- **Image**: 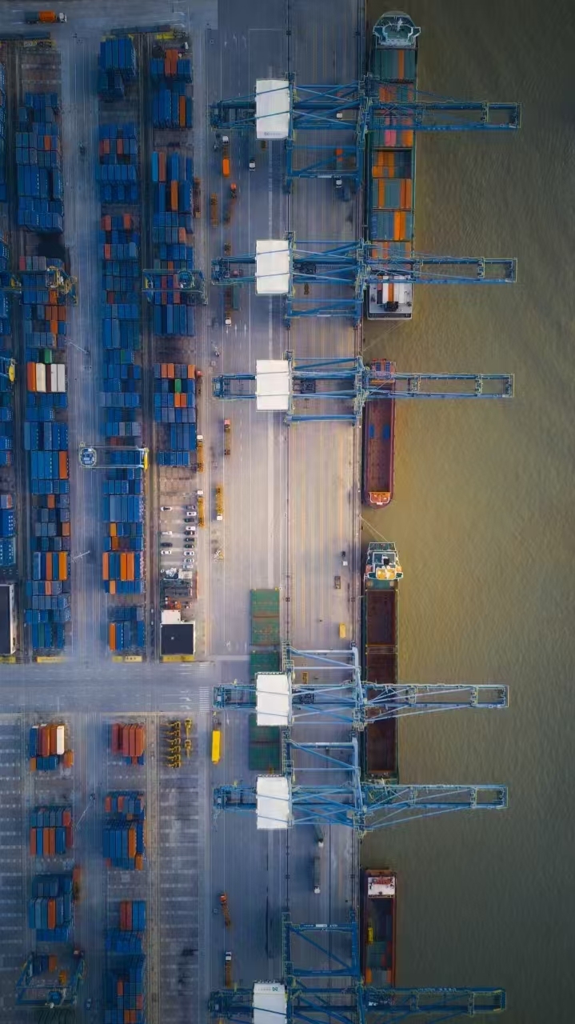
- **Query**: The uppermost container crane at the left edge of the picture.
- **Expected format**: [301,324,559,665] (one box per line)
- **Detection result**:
[0,271,77,317]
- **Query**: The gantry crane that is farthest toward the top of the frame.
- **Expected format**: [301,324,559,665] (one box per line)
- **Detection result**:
[210,60,522,195]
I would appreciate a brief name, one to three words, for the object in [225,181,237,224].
vehicle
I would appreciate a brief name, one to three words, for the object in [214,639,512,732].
container crane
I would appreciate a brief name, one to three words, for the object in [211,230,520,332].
container crane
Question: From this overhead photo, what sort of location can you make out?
port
